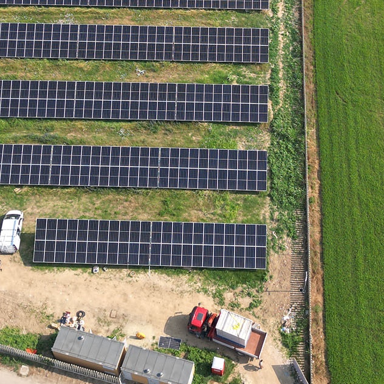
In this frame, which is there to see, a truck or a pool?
truck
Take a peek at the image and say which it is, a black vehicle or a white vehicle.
white vehicle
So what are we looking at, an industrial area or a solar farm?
solar farm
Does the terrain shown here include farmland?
Yes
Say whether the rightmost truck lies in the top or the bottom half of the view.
bottom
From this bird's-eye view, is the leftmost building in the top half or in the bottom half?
bottom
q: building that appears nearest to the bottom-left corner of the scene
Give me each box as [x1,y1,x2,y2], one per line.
[51,326,126,377]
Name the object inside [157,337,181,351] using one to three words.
solar panel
